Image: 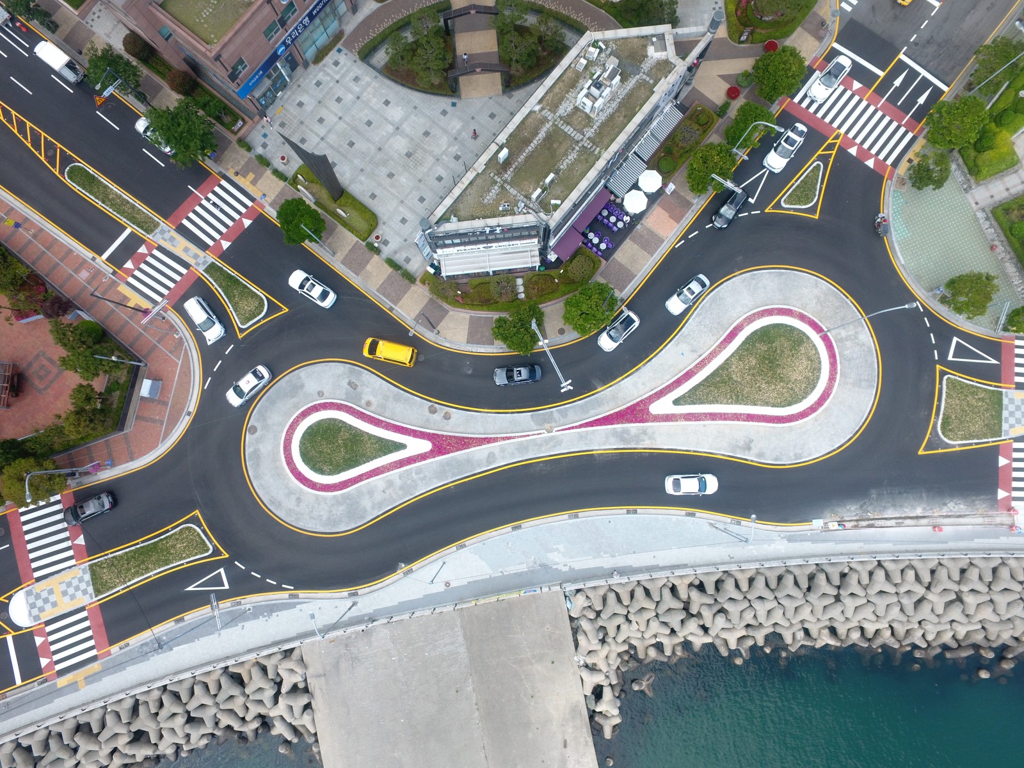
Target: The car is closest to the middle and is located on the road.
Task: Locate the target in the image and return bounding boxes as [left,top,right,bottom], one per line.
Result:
[491,363,544,388]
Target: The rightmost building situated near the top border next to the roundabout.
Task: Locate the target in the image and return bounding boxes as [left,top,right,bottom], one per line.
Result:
[417,9,729,282]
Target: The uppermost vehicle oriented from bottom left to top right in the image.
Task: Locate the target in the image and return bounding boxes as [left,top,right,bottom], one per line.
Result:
[805,53,853,106]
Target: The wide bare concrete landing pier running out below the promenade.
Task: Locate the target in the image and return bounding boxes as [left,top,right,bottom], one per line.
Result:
[301,592,599,768]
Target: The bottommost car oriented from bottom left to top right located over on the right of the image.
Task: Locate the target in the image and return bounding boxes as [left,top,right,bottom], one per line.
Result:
[596,307,642,353]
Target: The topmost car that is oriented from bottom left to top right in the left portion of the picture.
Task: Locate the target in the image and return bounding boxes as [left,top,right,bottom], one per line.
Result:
[225,362,275,409]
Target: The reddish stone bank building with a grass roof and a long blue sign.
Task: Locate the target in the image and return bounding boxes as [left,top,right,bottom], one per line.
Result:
[94,0,358,117]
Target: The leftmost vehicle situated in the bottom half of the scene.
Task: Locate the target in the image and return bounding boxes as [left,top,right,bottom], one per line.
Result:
[62,491,117,526]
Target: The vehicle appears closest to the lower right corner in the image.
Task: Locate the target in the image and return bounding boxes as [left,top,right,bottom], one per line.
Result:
[663,472,719,498]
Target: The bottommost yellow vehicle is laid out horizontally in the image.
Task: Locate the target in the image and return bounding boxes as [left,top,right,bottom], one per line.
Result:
[361,336,418,368]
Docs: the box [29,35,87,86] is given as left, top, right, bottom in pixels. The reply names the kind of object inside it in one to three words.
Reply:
truck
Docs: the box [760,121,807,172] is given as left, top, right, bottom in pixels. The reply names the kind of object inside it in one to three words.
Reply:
car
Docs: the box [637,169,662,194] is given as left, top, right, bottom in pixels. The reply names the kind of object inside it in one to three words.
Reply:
umbrella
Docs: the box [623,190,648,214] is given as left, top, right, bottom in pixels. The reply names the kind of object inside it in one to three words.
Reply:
umbrella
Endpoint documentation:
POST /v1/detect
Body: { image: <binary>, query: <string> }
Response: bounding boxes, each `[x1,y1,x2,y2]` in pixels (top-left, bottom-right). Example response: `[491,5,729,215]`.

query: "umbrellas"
[623,190,648,214]
[637,169,662,194]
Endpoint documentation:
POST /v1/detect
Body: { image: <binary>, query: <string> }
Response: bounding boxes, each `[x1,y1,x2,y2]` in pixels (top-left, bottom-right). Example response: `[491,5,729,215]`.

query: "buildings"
[94,0,358,117]
[417,9,729,282]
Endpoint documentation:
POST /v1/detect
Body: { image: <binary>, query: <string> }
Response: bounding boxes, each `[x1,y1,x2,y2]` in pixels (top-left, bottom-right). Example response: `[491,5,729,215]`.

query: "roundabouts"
[242,265,882,537]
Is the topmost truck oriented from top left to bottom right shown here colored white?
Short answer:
Yes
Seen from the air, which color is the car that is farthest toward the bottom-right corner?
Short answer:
white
